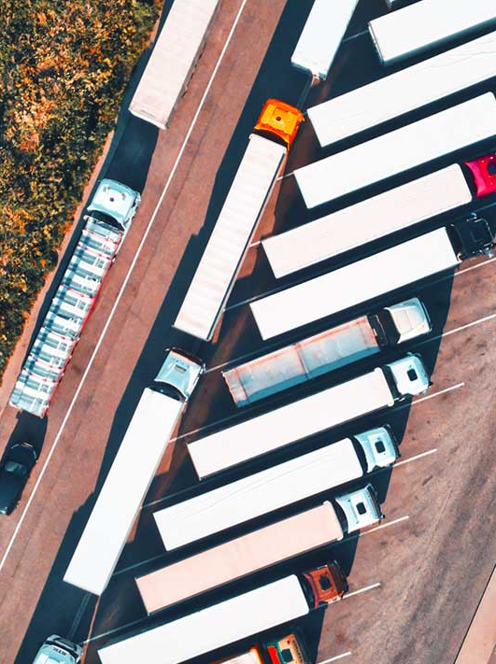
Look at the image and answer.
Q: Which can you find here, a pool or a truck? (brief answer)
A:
truck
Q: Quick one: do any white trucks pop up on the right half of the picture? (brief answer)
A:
Yes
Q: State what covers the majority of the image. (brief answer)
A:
paved ground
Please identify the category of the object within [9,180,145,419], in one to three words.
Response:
truck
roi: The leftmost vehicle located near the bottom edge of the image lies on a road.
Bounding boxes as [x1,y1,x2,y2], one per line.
[40,631,92,664]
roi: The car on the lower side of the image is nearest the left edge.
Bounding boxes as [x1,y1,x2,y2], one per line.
[0,441,36,515]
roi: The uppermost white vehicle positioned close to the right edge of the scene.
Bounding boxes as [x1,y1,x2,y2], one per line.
[368,0,496,69]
